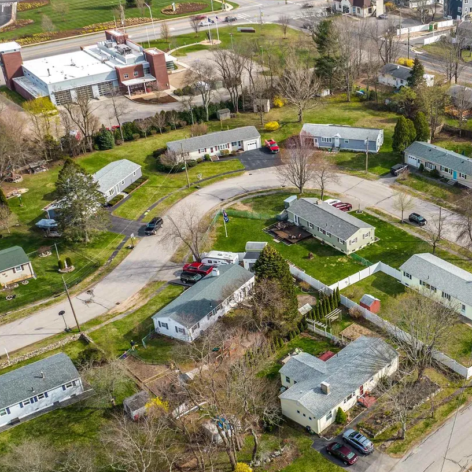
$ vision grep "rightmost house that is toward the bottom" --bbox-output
[399,255,472,319]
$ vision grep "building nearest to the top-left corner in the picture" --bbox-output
[0,28,187,112]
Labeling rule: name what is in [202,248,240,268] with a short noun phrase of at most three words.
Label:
vehicle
